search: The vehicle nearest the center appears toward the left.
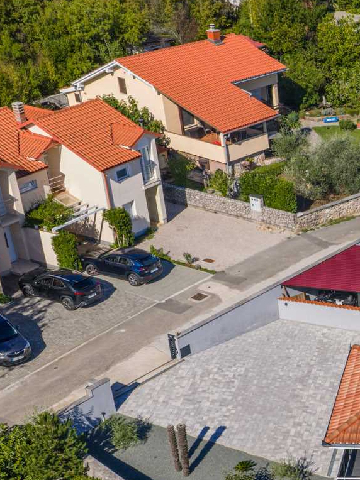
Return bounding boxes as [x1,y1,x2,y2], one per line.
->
[84,239,168,283]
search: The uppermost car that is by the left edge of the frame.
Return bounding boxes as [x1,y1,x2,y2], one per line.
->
[18,258,104,305]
